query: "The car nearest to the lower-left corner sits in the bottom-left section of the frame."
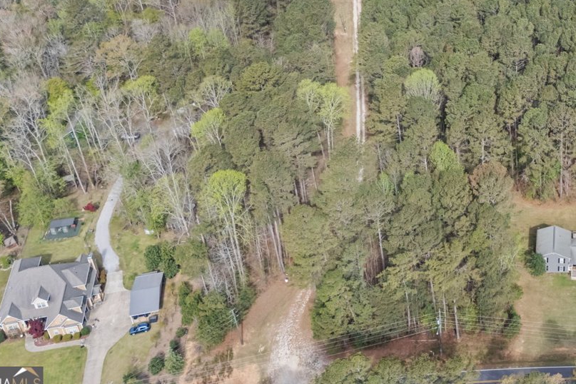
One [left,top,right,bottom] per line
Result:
[127,321,151,335]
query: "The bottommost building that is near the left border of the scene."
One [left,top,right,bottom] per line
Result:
[0,250,113,339]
